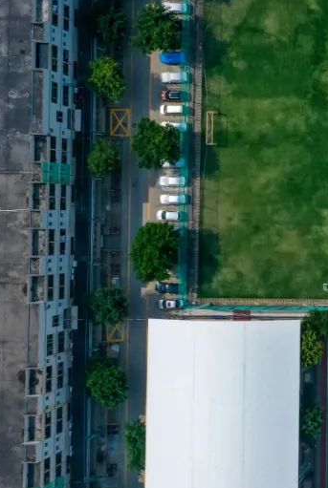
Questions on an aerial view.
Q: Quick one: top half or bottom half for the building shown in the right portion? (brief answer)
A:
bottom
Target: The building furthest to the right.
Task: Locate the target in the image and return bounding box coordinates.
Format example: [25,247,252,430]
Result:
[144,319,307,488]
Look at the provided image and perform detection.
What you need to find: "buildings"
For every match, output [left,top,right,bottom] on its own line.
[144,319,307,488]
[0,0,81,488]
